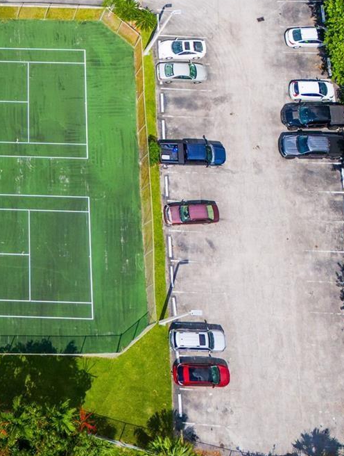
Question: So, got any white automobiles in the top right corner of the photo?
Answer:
Yes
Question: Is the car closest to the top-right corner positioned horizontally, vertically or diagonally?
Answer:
horizontally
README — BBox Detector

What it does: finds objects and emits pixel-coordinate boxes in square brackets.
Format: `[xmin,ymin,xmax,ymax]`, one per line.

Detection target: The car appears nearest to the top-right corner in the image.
[282,26,335,50]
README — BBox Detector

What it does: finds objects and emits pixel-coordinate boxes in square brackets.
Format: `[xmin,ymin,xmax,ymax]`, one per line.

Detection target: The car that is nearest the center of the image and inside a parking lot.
[163,201,221,226]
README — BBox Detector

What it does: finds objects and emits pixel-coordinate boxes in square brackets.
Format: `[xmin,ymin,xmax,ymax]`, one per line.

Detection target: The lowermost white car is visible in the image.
[168,327,226,355]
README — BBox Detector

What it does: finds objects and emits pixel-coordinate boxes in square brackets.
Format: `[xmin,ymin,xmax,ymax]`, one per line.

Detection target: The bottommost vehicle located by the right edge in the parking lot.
[276,134,344,160]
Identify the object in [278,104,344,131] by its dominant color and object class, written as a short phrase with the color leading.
black truck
